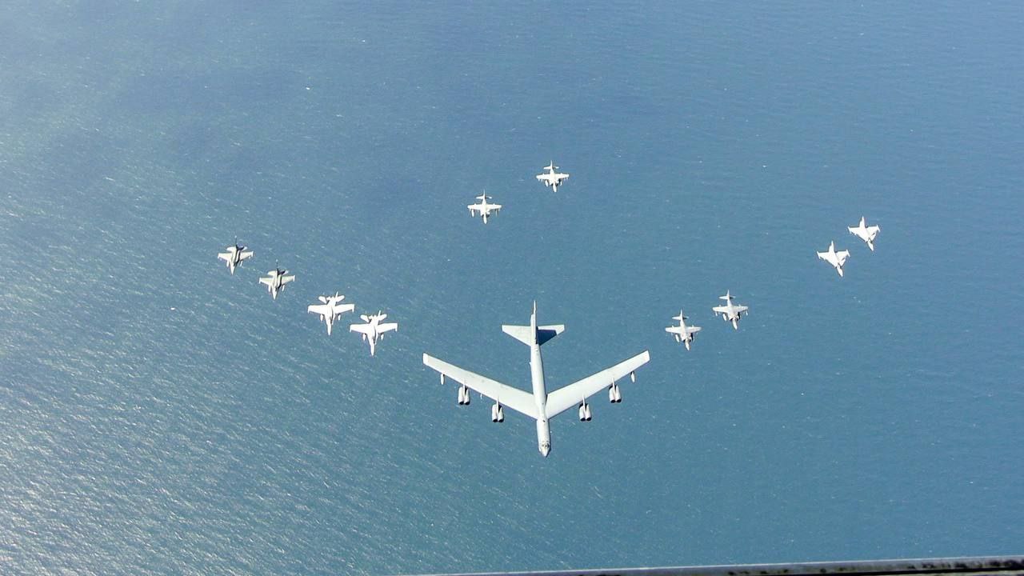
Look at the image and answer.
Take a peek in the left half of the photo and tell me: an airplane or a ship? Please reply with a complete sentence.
There is an airplane in the left half of the photo.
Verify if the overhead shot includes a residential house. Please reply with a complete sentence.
No, no residential house is visible in the scene.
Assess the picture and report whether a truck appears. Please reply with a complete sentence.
No, I find no truck anywhere in the image.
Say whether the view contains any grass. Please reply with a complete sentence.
No, the picture contains no grass.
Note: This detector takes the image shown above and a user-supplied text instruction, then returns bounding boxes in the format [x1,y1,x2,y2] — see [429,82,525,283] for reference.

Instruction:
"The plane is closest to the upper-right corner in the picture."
[849,216,879,250]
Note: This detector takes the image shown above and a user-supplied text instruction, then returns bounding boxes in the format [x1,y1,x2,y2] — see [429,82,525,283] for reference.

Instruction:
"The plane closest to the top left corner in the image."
[218,236,253,274]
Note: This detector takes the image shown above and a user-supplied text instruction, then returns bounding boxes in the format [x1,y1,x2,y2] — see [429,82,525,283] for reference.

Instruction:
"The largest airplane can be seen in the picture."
[424,300,649,459]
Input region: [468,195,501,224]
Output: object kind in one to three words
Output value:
airplane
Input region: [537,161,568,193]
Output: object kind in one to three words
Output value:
airplane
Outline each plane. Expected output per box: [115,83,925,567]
[424,300,649,459]
[308,290,353,335]
[713,290,748,329]
[849,216,879,250]
[666,311,701,350]
[218,236,253,274]
[259,260,294,299]
[817,240,849,276]
[350,309,396,356]
[468,195,501,224]
[537,161,568,193]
